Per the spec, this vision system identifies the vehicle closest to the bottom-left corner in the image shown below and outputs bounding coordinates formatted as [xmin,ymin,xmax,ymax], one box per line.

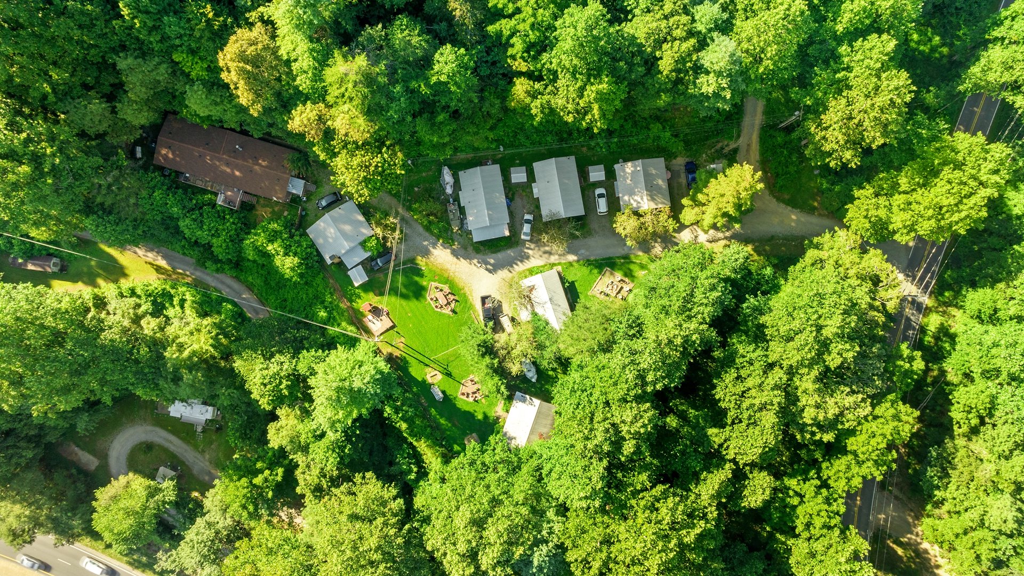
[17,553,45,571]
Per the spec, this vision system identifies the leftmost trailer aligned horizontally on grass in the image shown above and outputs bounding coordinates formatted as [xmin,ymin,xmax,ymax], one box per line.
[9,255,72,275]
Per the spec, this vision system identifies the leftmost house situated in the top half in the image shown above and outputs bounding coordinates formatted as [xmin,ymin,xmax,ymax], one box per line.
[153,114,317,210]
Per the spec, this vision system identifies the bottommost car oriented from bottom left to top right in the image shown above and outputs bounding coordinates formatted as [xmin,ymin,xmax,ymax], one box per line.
[371,250,396,271]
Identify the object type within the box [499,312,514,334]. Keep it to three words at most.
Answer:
vehicle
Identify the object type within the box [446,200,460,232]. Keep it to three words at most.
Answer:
boat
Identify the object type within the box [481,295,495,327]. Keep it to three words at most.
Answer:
vehicle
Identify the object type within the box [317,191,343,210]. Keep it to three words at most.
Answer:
car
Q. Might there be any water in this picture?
No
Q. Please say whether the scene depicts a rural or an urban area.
rural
